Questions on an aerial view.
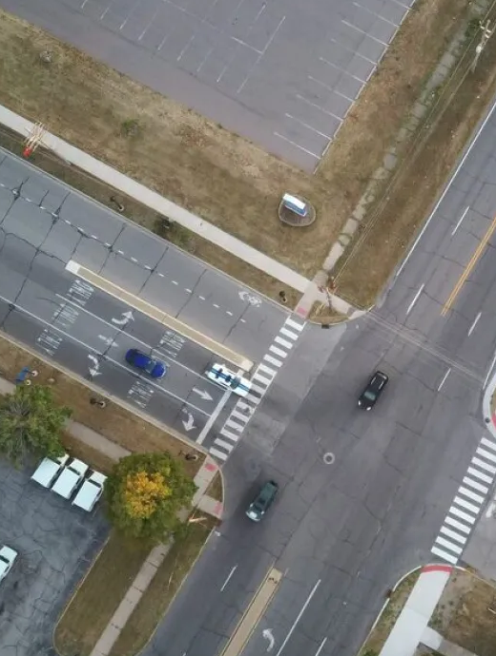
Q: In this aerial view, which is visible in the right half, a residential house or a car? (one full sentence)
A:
There is a car in the right half.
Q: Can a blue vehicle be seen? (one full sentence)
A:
Yes, there's a blue vehicle down there.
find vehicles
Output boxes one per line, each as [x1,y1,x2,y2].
[50,456,94,500]
[204,363,252,397]
[359,369,390,412]
[30,447,75,490]
[0,543,21,585]
[246,479,282,523]
[71,469,113,512]
[124,347,168,377]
